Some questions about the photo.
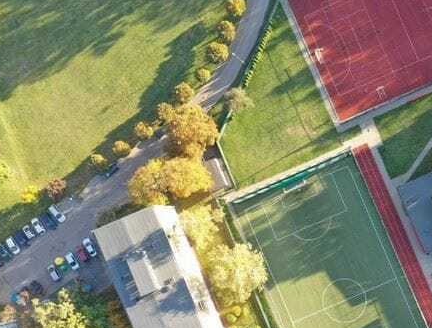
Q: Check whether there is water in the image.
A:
No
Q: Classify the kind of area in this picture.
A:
sports ground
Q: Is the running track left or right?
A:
right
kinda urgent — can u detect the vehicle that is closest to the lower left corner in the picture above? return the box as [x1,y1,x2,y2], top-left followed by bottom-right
[27,280,44,293]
